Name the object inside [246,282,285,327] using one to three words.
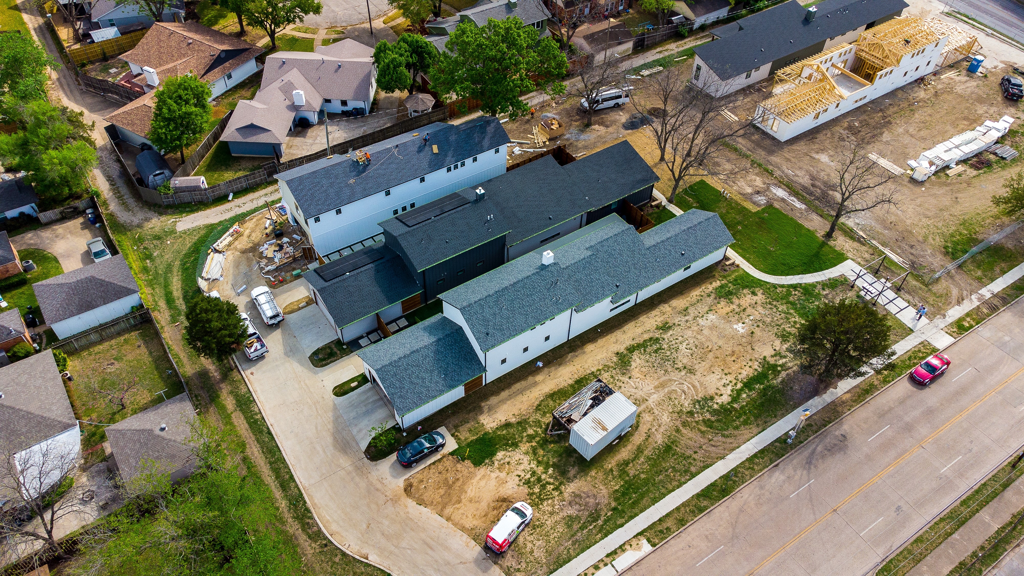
truck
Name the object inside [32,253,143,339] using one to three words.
building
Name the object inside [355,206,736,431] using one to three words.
house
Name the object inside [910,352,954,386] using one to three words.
car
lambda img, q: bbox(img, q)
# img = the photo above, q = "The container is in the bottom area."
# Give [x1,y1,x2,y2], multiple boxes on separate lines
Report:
[570,392,637,460]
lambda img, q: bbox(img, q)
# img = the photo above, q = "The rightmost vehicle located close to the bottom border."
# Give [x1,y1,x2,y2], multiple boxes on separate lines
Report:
[485,502,533,555]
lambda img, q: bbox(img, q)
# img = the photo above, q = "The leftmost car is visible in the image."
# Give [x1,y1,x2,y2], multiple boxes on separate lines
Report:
[86,237,112,263]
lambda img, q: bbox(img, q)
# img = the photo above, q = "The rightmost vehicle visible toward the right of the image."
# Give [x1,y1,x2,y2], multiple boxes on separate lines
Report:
[1000,73,1024,100]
